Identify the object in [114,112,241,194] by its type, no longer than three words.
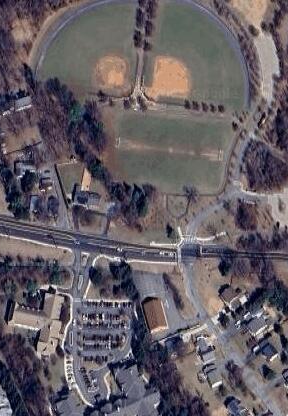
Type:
soccer field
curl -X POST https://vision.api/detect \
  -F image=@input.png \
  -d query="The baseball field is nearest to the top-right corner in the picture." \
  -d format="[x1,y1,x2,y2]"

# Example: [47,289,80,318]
[146,0,246,107]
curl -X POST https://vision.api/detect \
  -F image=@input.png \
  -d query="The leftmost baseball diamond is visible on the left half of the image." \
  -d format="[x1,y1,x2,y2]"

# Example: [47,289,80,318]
[38,0,137,99]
